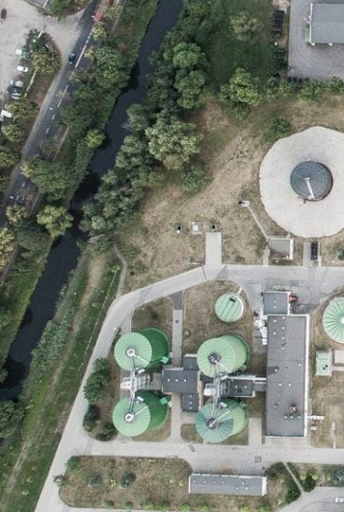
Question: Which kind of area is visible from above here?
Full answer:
The area seen from above is an industrial area.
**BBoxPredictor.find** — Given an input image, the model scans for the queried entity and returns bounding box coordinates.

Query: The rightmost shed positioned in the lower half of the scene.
[316,350,331,376]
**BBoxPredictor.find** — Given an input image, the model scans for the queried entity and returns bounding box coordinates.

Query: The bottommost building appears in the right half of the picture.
[190,471,270,496]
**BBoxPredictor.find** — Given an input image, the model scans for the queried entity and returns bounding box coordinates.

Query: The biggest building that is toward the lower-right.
[266,315,324,437]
